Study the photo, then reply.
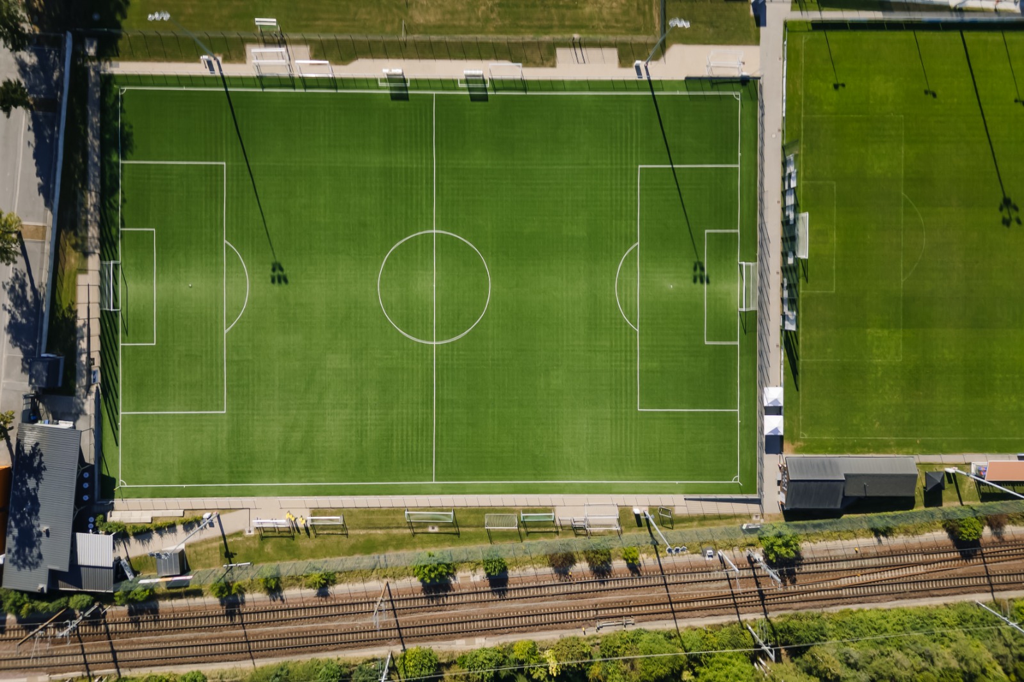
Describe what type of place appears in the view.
sports ground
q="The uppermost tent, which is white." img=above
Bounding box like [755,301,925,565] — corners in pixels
[763,386,785,405]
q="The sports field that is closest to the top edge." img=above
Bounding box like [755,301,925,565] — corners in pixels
[125,0,662,40]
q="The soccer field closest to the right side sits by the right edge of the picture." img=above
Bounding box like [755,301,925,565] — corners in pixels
[781,20,1024,456]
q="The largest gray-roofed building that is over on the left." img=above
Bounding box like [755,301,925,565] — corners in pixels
[1,422,95,593]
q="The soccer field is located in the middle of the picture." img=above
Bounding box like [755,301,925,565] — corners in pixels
[101,76,757,497]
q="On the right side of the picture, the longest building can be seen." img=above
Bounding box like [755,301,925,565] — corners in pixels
[782,455,918,509]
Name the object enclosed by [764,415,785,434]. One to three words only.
tent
